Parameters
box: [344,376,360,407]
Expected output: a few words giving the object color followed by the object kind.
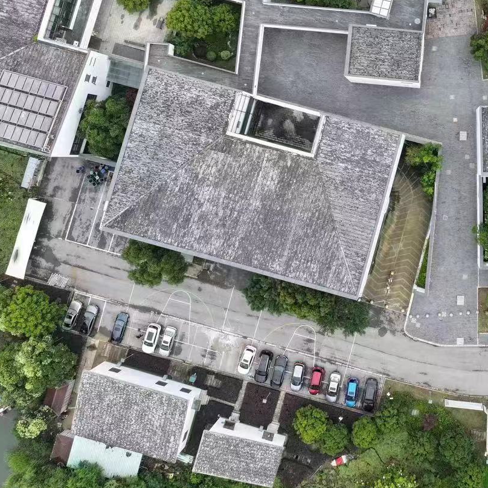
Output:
blue car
